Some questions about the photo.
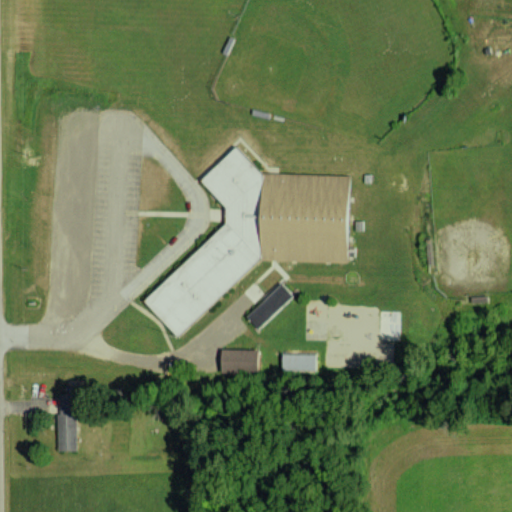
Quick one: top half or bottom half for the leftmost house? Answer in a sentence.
You can find the leftmost house in the bottom half.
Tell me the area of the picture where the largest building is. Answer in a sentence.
The largest building appears toward the center of the photo.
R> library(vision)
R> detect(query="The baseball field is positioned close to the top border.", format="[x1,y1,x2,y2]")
[214,0,452,139]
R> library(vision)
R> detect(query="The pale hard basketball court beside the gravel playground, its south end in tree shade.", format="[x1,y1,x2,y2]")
[380,311,402,363]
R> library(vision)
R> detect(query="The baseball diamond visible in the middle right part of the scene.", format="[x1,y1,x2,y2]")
[428,144,512,298]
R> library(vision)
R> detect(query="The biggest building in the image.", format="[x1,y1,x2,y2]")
[146,147,351,338]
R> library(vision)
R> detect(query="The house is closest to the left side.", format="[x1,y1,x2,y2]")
[58,413,78,452]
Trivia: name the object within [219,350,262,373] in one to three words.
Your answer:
shed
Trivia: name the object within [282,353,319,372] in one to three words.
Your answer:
shed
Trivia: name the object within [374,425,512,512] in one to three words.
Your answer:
sports field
